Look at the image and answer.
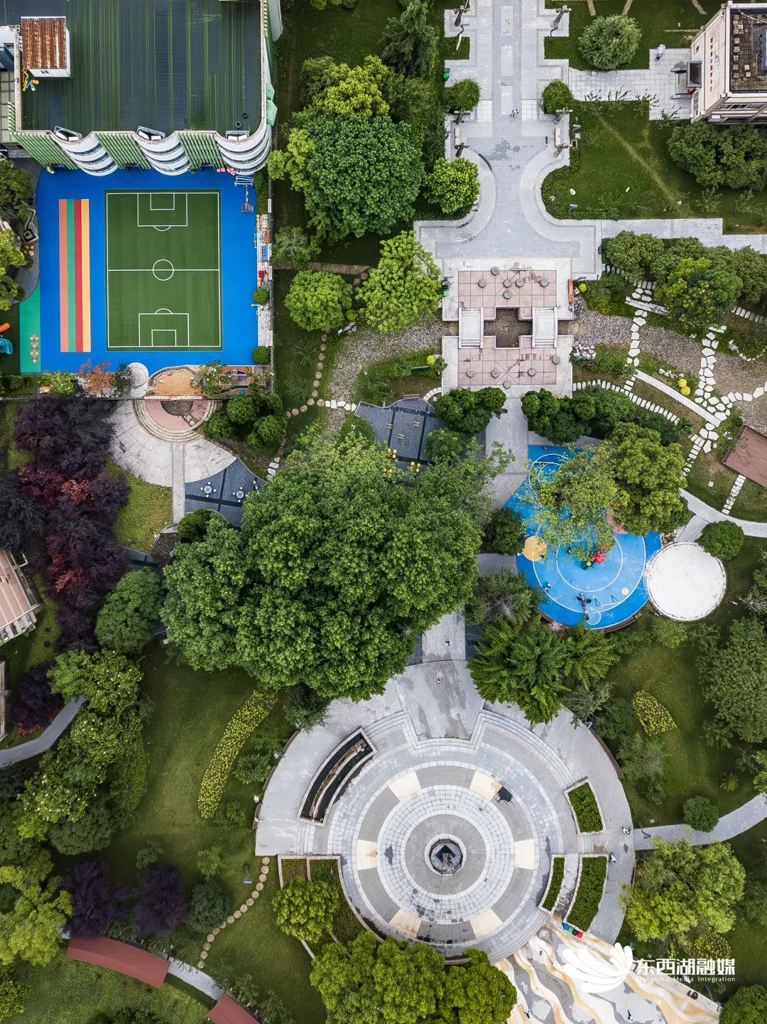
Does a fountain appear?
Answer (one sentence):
Yes, the image includes a fountain.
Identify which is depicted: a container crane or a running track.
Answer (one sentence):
This aerial view contains a running track.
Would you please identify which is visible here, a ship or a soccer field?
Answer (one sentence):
There is a soccer field in the scene.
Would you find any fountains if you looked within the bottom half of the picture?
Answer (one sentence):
Yes, you'll find a fountain within the bottom half of the picture.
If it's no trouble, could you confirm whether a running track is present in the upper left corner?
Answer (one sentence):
Yes, I can see a running track in the upper left corner.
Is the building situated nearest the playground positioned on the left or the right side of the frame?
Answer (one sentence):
The building situated nearest the playground is on the right side of the image.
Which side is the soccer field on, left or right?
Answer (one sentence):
The soccer field is on the left side of the image.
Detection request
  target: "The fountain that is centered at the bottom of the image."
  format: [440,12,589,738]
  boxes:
[425,834,467,877]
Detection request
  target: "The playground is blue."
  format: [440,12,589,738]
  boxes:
[503,445,661,629]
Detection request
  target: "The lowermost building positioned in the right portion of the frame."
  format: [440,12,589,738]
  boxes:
[709,425,767,490]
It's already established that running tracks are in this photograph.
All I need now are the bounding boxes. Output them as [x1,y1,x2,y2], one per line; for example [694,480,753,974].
[58,199,90,352]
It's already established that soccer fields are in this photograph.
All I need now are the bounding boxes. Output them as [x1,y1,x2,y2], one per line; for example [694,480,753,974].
[104,188,223,352]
